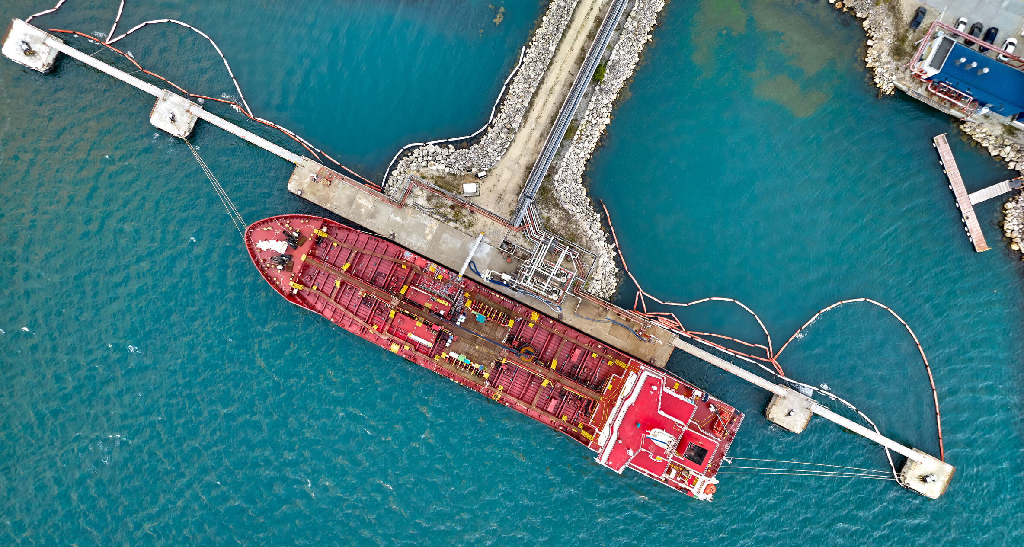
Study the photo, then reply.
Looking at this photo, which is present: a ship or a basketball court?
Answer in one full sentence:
Of the two, only a ship appears.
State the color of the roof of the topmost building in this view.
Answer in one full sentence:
The roof of the topmost building is blue.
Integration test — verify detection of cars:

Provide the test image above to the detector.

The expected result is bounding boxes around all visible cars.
[952,15,970,37]
[911,5,929,29]
[998,35,1020,61]
[981,25,1000,51]
[966,20,986,45]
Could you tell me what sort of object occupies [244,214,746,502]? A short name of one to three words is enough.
ship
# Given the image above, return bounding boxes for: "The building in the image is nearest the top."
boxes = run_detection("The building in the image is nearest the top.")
[916,35,1024,116]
